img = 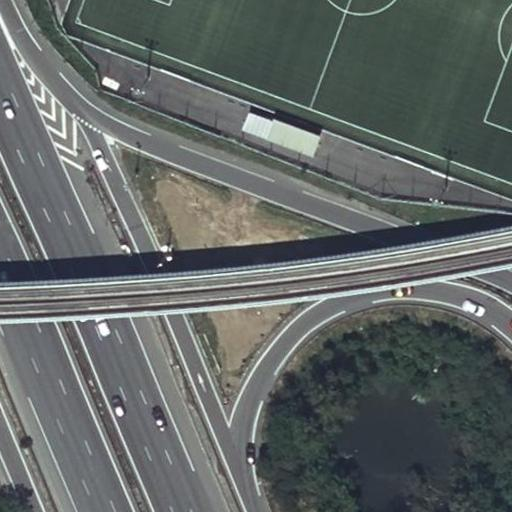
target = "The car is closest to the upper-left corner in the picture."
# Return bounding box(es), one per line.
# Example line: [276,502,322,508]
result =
[2,99,16,120]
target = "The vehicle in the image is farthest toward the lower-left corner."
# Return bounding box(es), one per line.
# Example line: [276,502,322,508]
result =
[112,396,125,417]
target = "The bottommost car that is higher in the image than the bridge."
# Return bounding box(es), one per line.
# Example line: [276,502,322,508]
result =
[92,148,110,172]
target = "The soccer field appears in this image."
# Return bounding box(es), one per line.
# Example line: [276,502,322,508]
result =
[64,0,512,199]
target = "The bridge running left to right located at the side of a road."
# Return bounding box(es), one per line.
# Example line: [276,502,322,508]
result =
[0,226,512,323]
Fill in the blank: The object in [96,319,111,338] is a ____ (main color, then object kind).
white car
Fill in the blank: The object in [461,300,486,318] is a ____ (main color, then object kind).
white car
